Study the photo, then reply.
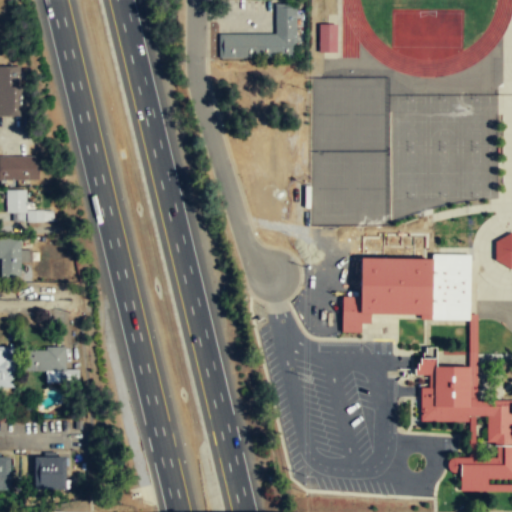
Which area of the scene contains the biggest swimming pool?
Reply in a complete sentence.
The biggest swimming pool is located in the bottom left region of the scene.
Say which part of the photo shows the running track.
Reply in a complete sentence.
The running track sits in the top right section of the image.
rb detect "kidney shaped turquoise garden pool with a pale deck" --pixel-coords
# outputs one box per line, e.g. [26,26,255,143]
[38,388,62,413]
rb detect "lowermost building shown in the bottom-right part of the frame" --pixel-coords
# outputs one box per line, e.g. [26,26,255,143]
[450,448,512,492]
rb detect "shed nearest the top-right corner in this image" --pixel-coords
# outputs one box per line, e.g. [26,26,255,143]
[320,24,338,52]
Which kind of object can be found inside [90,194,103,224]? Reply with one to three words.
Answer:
vehicle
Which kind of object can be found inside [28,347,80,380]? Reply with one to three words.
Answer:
house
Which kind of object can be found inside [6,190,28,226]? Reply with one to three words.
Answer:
house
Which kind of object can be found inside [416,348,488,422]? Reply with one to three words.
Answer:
building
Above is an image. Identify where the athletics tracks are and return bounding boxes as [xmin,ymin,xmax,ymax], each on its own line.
[343,0,504,77]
